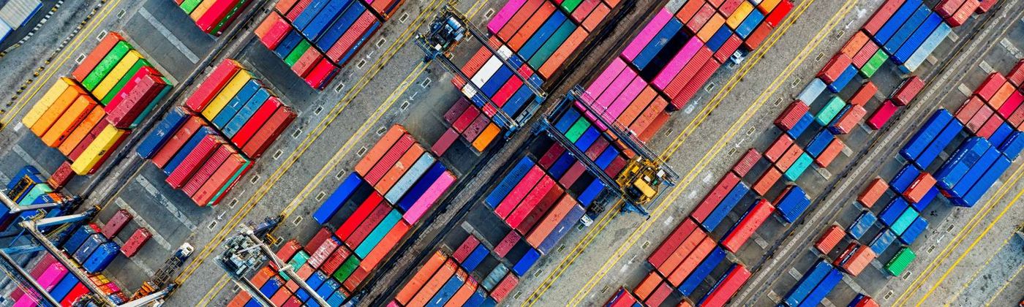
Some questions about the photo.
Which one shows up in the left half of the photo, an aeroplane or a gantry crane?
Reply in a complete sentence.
There is a gantry crane in the left half of the photo.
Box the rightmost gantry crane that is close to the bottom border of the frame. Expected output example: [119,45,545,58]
[210,210,374,307]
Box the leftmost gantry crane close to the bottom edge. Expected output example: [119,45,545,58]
[0,207,180,307]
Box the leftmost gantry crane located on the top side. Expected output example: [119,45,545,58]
[413,0,550,139]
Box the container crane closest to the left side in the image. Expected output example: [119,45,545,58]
[0,174,85,240]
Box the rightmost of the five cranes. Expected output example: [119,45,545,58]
[539,86,680,218]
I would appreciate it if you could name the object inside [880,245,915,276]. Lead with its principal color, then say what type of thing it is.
green shipping container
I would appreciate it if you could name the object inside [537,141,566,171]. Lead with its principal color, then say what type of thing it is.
red shipping container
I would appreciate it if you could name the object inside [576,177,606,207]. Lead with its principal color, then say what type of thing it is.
blue shipping container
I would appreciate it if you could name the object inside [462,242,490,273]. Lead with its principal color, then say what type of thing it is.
blue shipping container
